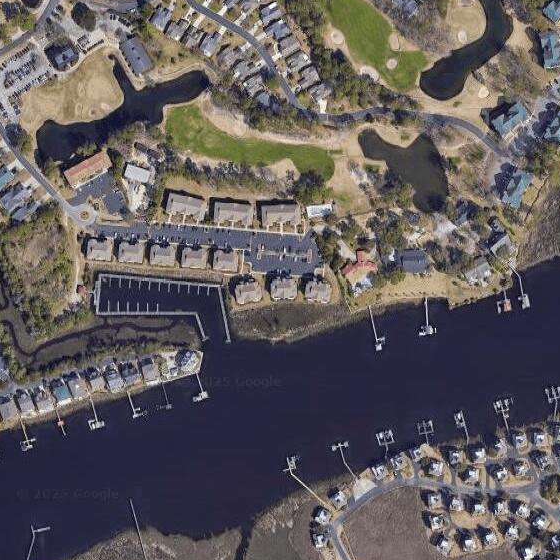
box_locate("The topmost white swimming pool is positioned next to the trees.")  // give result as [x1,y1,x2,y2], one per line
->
[307,203,333,217]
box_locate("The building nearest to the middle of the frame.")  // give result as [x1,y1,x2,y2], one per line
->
[271,279,297,299]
